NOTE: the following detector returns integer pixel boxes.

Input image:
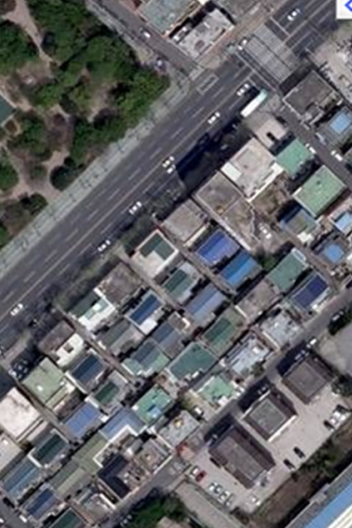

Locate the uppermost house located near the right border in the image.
[281,72,344,127]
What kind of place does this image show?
residential area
